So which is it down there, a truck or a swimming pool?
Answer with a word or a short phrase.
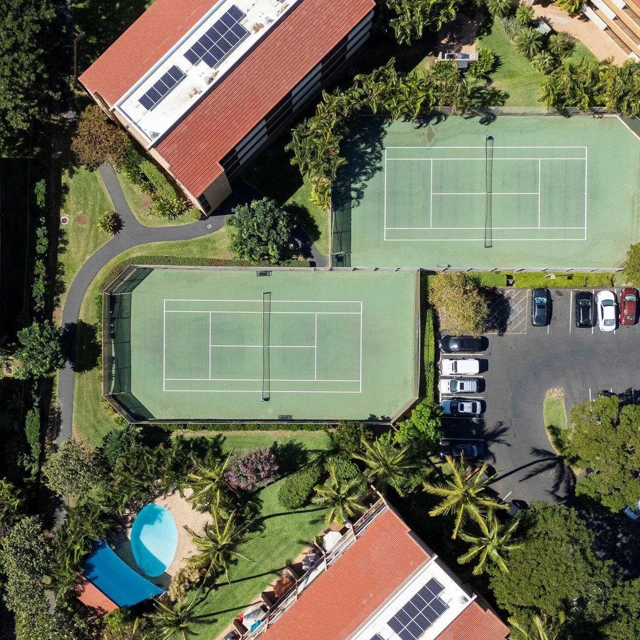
swimming pool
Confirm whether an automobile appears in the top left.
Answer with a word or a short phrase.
No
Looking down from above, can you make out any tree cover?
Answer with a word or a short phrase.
Yes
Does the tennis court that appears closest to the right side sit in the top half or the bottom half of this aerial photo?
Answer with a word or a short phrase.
top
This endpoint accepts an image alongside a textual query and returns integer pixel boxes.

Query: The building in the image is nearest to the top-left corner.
[78,0,379,211]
